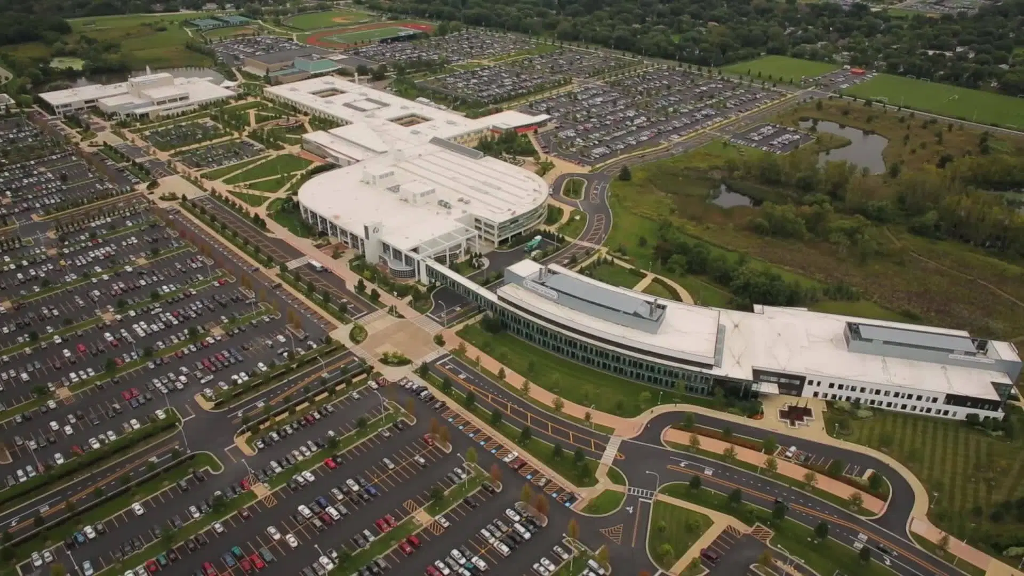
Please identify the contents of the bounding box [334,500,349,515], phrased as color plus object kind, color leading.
gray car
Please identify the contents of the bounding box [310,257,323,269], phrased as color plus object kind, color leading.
white vehicle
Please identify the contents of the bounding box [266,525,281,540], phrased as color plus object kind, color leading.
white car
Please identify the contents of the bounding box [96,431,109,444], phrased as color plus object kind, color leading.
gray vehicle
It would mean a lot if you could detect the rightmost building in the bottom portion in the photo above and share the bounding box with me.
[720,305,1021,429]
